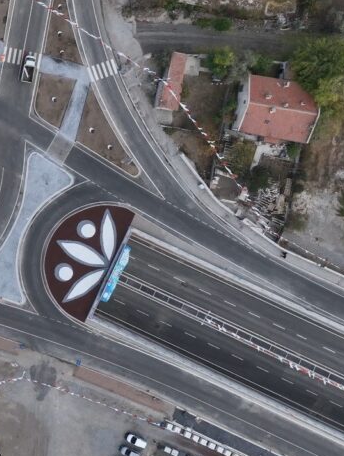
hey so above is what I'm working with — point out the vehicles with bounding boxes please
[21,53,37,83]
[120,445,141,456]
[126,433,149,450]
[179,449,191,456]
